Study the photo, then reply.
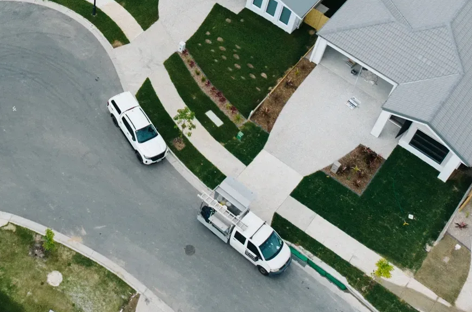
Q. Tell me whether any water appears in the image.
No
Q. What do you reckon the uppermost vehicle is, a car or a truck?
truck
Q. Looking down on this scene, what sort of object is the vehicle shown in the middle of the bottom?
truck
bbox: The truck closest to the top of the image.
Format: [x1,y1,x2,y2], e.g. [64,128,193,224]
[110,92,165,164]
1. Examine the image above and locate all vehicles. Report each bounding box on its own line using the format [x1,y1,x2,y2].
[196,183,295,284]
[110,92,165,164]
